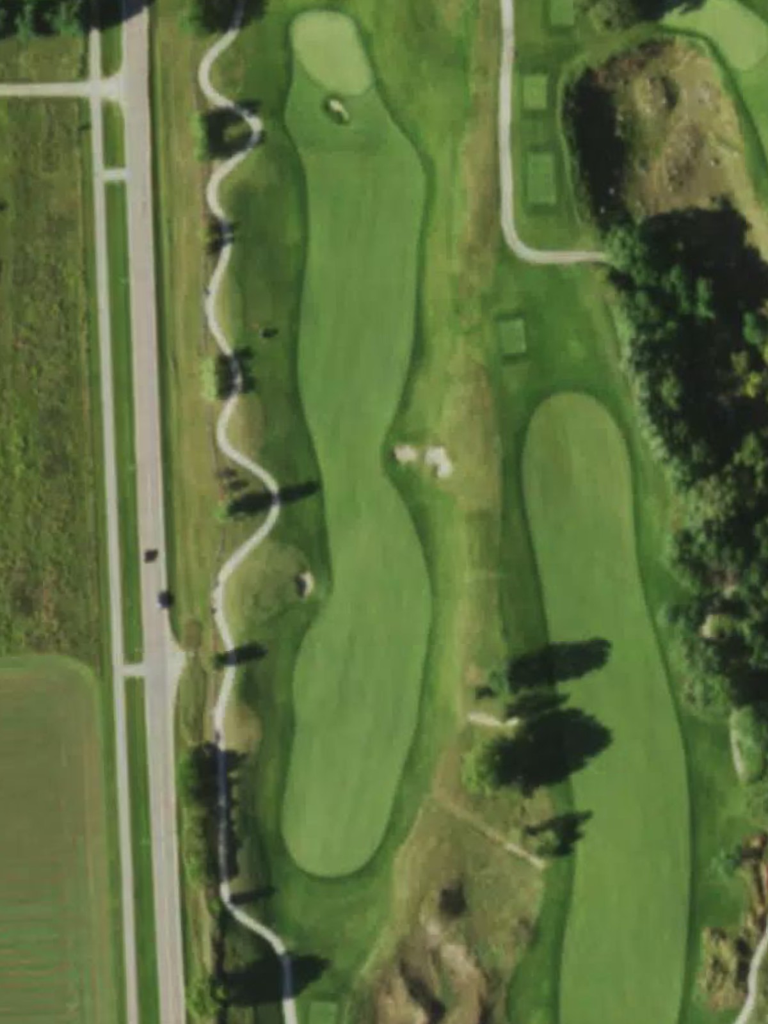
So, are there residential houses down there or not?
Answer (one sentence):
No, no residential house is visible in the view.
